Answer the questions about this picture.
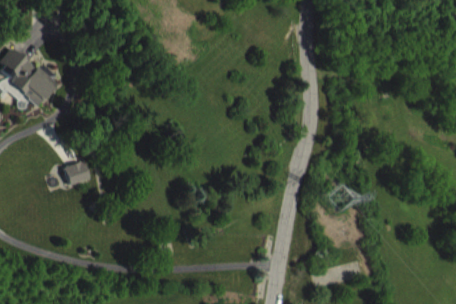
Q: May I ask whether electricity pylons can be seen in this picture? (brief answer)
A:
Yes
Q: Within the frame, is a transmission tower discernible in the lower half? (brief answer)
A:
Yes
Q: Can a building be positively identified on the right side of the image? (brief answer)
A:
No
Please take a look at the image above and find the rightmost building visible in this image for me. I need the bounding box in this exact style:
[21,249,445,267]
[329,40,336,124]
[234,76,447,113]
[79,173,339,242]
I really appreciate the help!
[62,162,91,186]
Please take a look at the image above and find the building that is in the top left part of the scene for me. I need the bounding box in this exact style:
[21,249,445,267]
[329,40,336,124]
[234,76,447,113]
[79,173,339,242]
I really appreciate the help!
[0,50,58,112]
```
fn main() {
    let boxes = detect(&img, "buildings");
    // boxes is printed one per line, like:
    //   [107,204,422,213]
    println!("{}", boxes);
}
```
[62,162,91,186]
[0,50,58,112]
